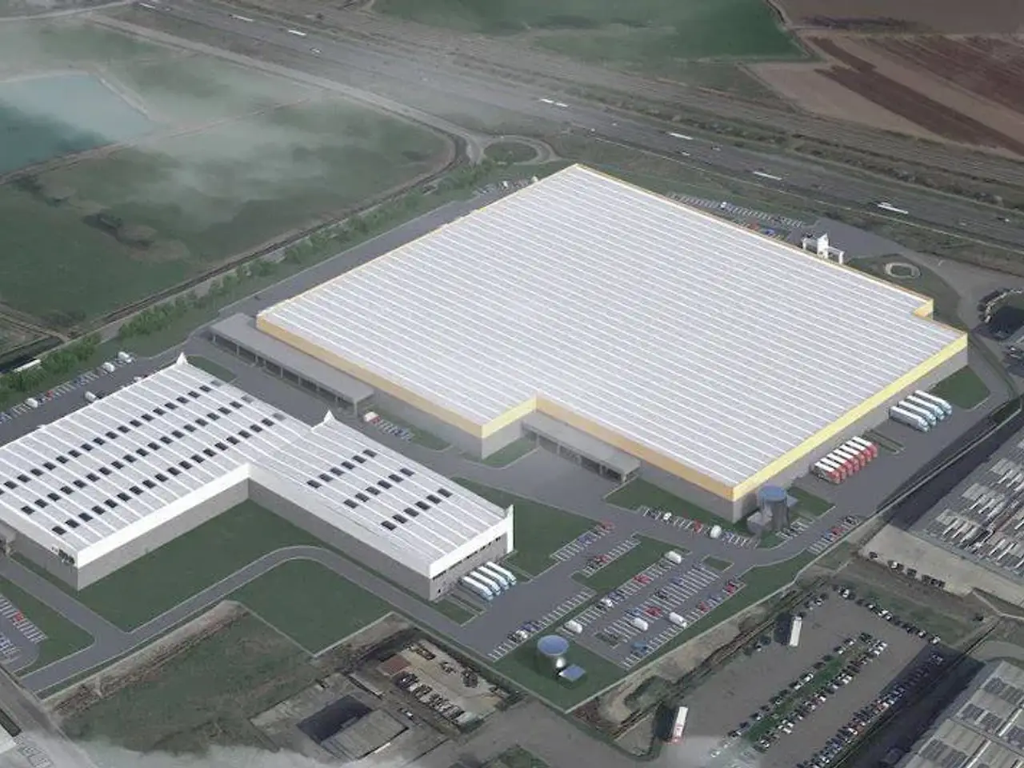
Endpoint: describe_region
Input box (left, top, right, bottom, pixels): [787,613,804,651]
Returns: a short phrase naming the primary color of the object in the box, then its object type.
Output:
white vehicle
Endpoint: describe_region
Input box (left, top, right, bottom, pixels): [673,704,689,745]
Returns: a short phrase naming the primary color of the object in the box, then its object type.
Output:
white vehicle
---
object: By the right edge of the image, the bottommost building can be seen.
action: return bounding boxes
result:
[892,661,1024,768]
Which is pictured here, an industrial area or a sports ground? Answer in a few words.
industrial area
